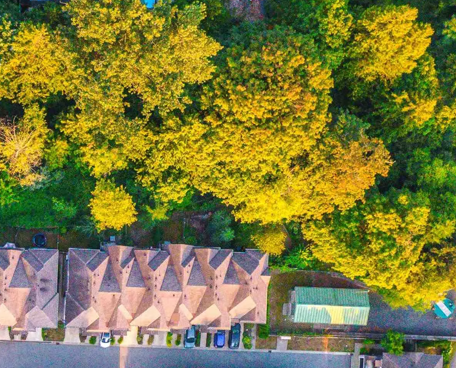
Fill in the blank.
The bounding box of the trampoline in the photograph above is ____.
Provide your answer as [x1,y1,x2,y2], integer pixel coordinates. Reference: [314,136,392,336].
[30,231,48,247]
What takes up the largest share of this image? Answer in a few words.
trees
